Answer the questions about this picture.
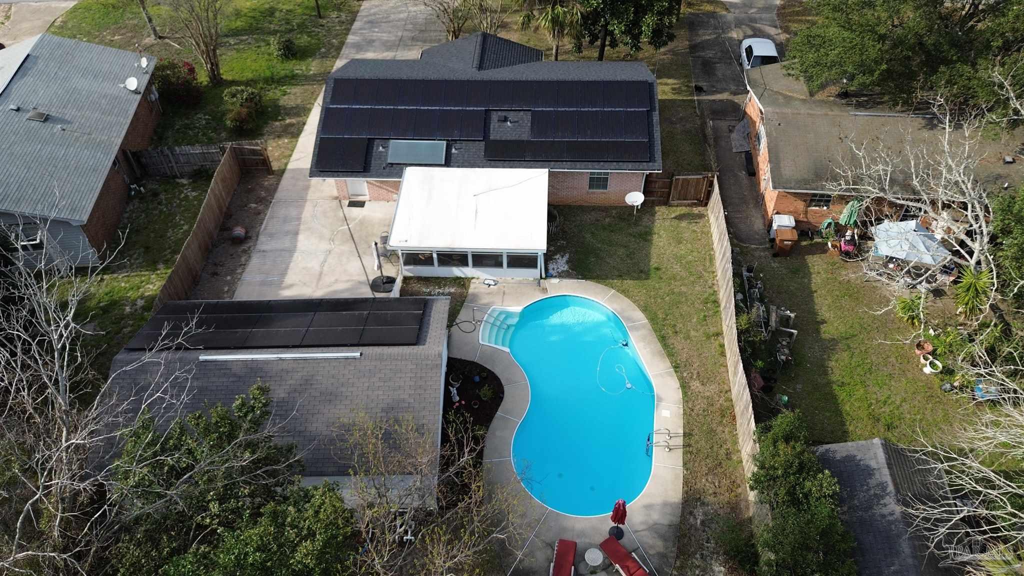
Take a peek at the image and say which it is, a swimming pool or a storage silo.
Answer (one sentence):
This aerial view contains a swimming pool.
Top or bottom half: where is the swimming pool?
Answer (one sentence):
Seen from above, the swimming pool lies in the bottom half of the view.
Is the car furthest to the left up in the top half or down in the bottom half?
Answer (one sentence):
The car furthest to the left is in the top half of the image.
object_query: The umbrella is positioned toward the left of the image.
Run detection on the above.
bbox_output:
[368,245,393,298]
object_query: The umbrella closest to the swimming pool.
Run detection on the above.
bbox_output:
[608,496,629,541]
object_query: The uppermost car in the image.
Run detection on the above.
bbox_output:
[734,38,777,69]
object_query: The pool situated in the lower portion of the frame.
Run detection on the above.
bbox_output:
[476,294,670,517]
